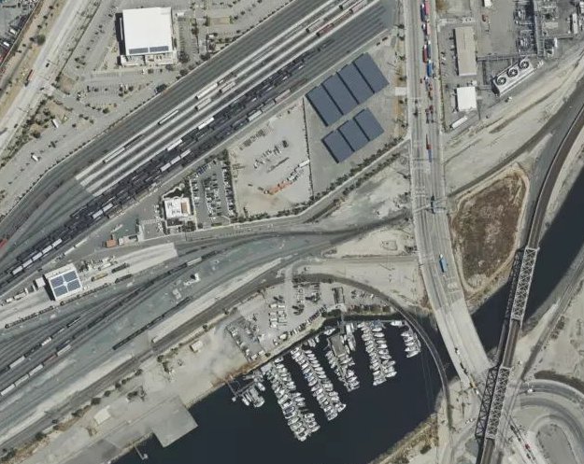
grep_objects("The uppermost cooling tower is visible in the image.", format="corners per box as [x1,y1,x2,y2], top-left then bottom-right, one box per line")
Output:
[492,57,534,98]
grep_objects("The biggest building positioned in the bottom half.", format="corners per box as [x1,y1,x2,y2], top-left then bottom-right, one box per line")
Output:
[44,263,83,304]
